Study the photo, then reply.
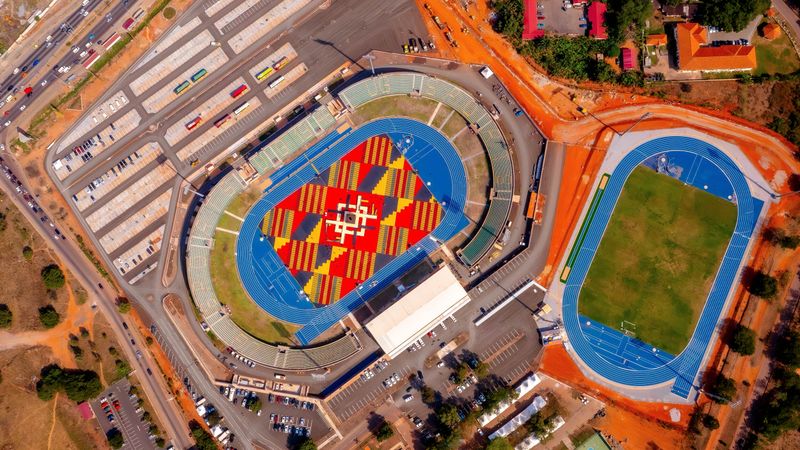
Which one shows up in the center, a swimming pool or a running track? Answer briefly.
running track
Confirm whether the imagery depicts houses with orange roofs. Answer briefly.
Yes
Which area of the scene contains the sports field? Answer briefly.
right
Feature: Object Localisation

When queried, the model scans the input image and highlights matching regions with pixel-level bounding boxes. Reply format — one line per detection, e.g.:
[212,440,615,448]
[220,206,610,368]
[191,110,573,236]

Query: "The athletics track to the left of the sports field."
[236,116,470,348]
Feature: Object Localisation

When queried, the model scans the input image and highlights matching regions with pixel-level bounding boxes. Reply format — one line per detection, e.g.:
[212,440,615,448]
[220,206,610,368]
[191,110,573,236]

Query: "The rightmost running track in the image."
[562,136,765,400]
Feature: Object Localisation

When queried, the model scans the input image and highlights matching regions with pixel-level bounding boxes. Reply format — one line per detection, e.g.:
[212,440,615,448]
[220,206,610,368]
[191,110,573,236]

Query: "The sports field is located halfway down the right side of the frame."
[579,164,738,356]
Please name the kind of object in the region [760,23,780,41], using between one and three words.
gazebo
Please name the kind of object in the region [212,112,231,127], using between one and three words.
vehicle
